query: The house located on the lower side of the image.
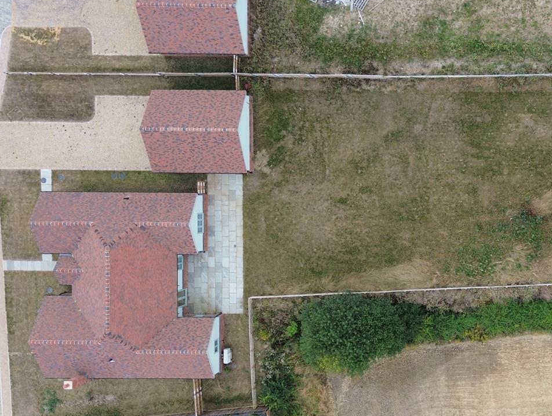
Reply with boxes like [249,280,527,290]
[27,191,225,390]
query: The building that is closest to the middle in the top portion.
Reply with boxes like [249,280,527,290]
[139,88,253,174]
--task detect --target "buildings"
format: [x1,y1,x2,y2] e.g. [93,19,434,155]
[27,191,225,390]
[139,88,253,174]
[137,0,252,58]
